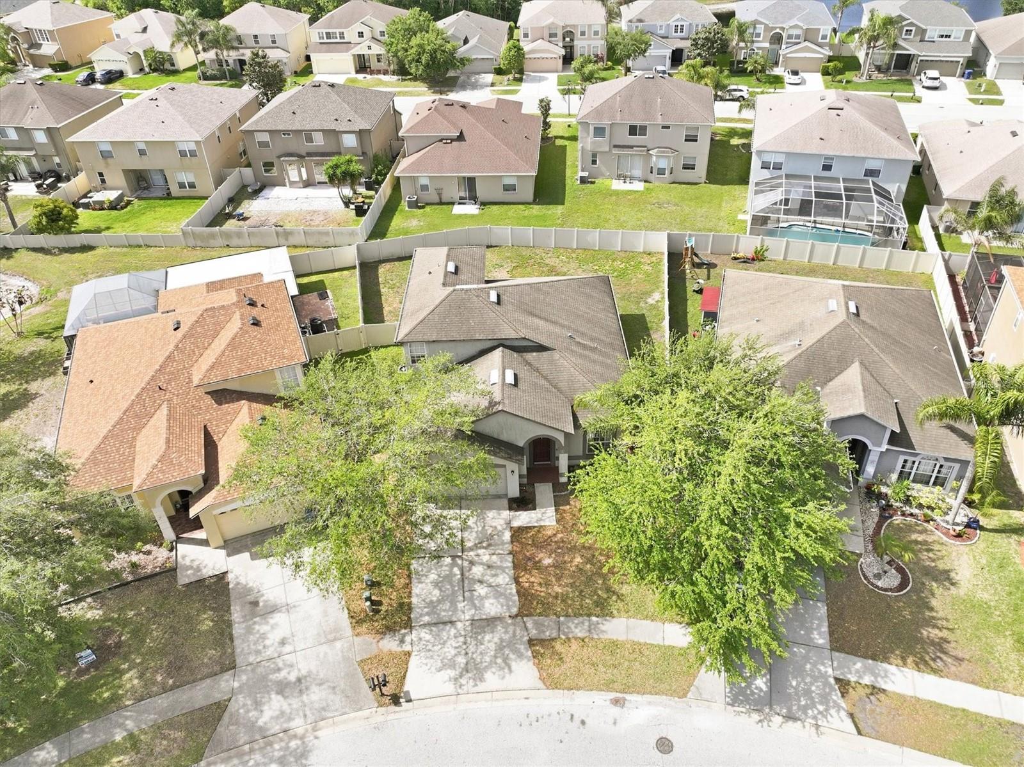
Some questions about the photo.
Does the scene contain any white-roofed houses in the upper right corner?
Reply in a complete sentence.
Yes, the scene does show a white-roofed house in the upper right corner.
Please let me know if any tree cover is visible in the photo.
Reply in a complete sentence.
Yes, tree cover shows up in the scene.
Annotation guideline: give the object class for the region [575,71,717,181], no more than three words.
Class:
house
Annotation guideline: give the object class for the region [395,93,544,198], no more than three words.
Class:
house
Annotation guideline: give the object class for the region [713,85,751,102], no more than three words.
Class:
car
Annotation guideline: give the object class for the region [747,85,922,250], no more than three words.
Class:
building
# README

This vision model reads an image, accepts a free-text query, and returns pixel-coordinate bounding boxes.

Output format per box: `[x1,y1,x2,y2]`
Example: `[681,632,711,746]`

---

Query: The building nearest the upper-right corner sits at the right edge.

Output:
[974,11,1024,76]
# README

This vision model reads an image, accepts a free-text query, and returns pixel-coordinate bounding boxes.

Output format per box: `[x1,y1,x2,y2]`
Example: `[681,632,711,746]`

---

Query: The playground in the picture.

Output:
[655,235,721,273]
